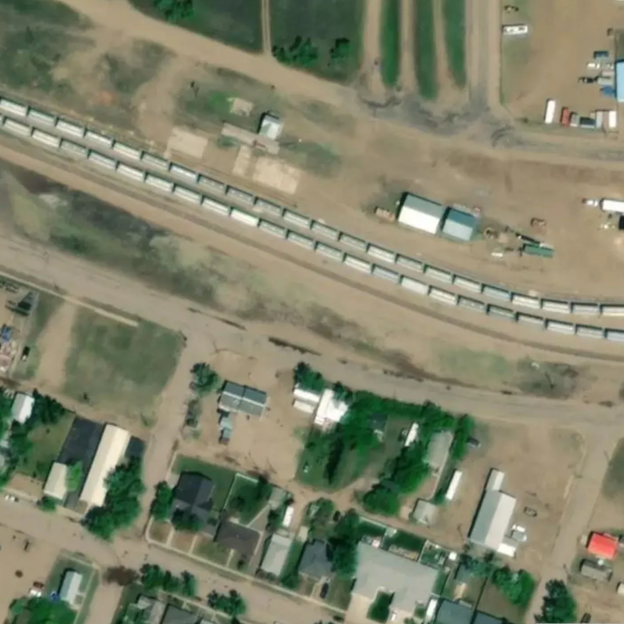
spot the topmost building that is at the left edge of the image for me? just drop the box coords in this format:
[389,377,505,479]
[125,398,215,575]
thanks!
[11,393,33,422]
